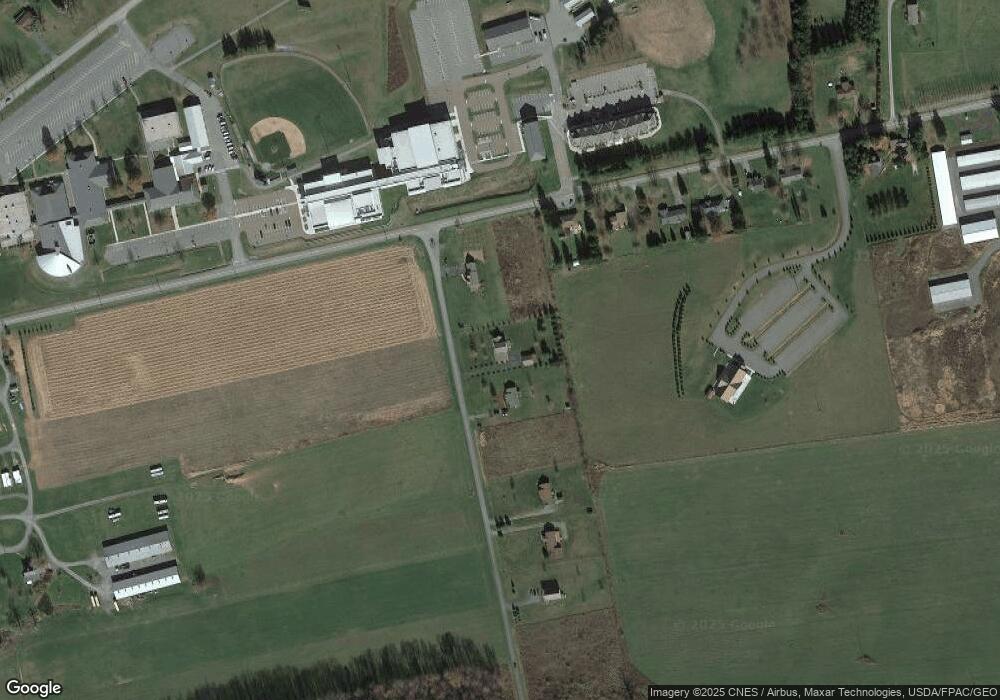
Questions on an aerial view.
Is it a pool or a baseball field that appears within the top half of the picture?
baseball field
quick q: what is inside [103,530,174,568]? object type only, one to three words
barn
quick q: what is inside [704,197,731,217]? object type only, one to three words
house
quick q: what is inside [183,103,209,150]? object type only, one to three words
building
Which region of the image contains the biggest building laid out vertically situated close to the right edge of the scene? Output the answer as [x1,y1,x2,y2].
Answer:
[932,149,958,226]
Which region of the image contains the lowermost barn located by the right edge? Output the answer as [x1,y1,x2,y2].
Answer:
[930,279,974,304]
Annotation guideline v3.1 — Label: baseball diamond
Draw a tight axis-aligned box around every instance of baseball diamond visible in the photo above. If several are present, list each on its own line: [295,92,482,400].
[220,51,373,173]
